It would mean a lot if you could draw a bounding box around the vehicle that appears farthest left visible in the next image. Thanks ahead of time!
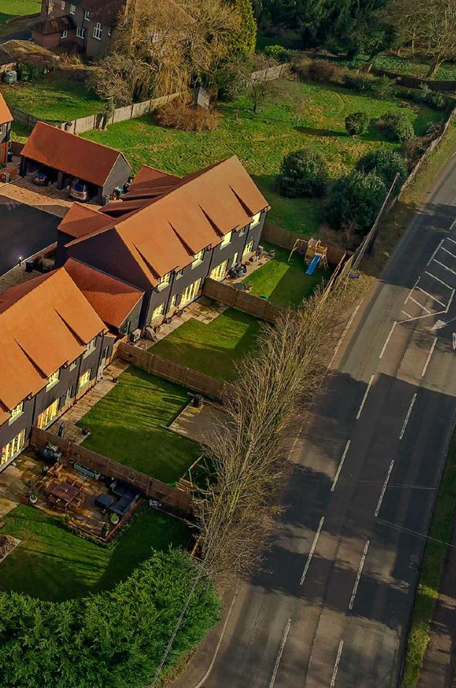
[30,165,59,188]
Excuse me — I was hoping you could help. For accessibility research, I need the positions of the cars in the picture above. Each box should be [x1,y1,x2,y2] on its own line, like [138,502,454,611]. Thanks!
[67,177,94,203]
[30,165,59,188]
